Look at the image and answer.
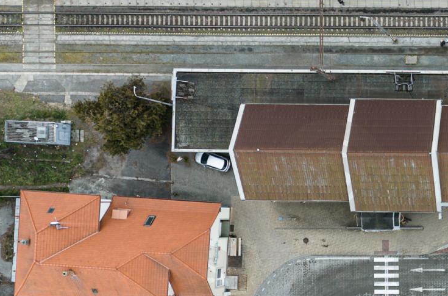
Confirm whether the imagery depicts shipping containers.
Yes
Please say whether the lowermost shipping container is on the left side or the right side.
left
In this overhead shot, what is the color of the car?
white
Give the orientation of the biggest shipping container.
horizontally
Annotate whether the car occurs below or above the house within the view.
above it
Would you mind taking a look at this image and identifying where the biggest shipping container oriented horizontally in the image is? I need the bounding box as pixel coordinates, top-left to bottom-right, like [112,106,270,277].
[5,120,83,146]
